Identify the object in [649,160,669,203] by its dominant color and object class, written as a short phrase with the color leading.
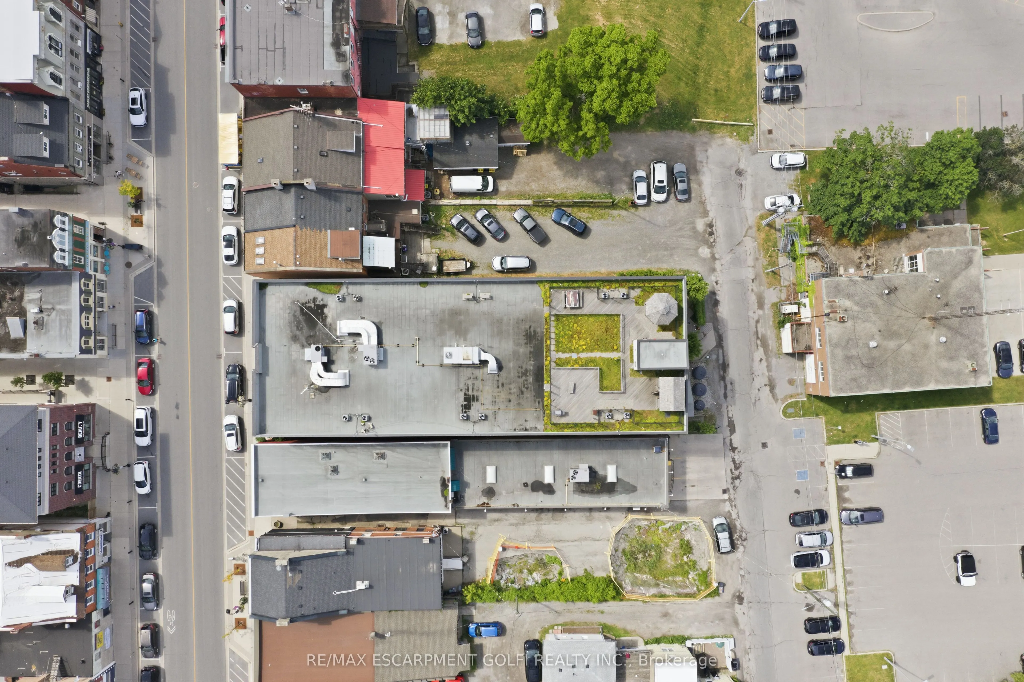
white car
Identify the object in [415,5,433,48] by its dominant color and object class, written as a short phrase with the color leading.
black car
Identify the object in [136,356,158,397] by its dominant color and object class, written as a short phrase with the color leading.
red car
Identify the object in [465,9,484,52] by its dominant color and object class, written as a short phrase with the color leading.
gray car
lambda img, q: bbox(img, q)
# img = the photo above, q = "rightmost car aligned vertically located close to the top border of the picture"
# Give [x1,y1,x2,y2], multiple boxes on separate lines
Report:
[527,1,546,42]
